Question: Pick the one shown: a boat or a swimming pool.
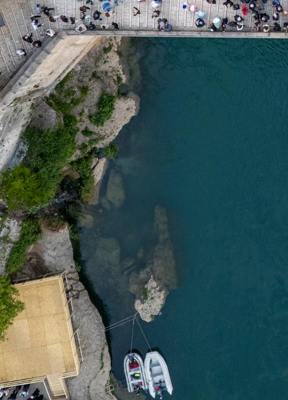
boat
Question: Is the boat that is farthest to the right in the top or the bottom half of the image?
bottom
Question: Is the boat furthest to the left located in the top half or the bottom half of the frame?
bottom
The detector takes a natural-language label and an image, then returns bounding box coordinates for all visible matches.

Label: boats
[124,351,148,395]
[143,350,174,400]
